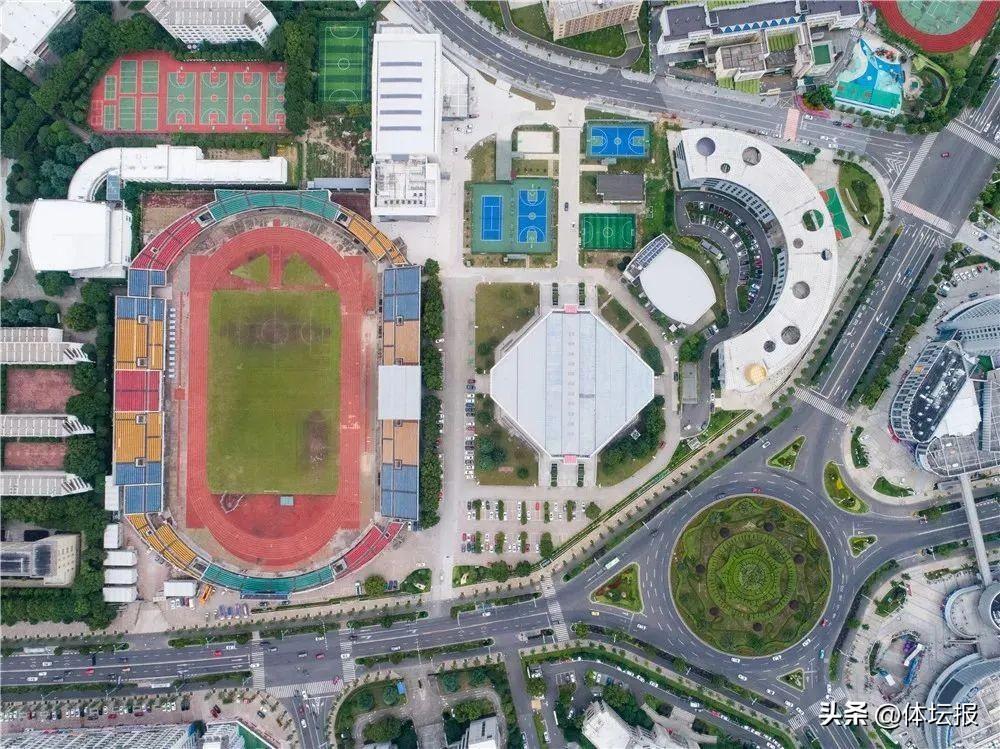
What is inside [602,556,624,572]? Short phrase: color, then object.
white vehicle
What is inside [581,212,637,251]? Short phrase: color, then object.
green sports field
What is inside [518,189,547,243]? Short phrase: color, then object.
blue basketball court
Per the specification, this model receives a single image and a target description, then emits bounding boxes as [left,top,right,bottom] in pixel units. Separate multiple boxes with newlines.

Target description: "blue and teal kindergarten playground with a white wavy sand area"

[838,34,904,116]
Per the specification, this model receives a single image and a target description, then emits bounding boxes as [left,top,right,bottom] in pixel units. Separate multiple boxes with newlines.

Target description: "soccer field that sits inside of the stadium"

[207,290,341,494]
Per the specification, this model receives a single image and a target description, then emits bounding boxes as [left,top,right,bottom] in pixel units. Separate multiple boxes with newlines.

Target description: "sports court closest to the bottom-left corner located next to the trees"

[5,442,63,467]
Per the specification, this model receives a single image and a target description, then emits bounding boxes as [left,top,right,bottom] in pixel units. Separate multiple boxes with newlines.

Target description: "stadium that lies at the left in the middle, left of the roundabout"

[112,188,424,600]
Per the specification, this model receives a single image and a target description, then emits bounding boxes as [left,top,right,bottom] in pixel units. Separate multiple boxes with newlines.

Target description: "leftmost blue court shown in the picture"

[480,195,503,240]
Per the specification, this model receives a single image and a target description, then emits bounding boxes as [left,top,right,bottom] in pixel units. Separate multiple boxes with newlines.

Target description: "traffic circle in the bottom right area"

[670,494,833,658]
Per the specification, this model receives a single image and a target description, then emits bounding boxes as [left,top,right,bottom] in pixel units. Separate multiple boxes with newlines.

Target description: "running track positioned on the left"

[175,218,363,566]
